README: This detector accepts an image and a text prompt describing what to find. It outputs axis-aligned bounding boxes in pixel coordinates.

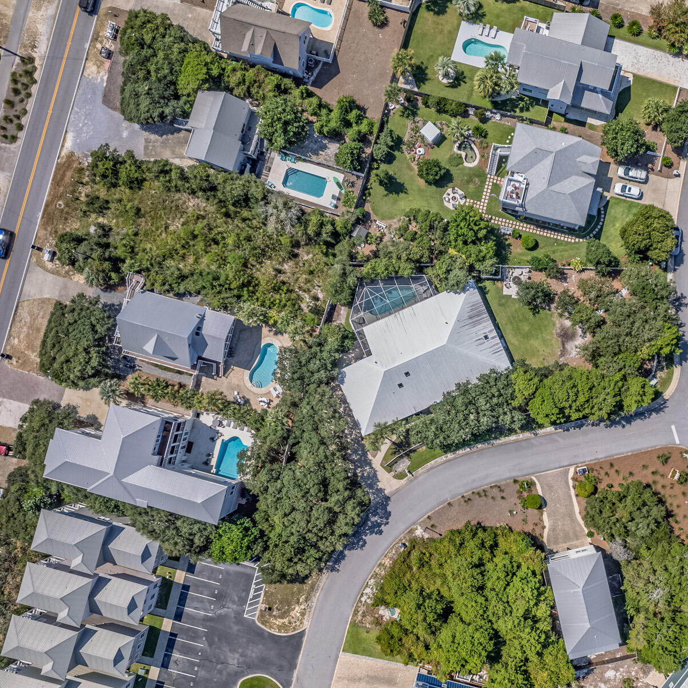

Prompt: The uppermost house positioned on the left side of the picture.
[209,0,316,77]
